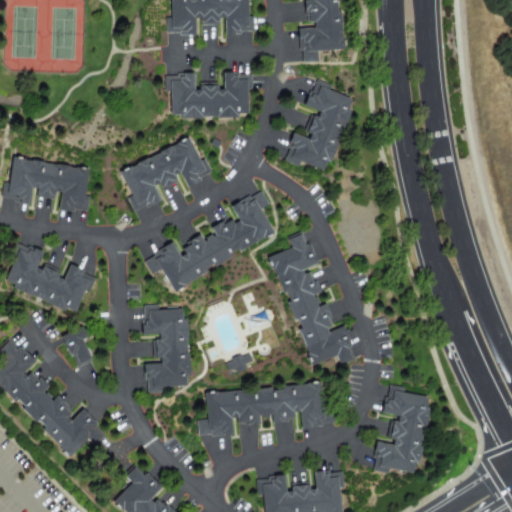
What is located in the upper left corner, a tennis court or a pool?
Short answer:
tennis court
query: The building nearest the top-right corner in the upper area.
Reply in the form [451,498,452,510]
[300,0,344,58]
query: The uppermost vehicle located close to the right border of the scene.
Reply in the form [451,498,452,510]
[497,364,510,383]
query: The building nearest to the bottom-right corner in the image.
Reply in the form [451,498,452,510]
[376,385,428,473]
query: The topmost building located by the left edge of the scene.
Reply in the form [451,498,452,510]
[0,158,88,210]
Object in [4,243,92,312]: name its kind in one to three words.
building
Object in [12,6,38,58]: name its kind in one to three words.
tennis court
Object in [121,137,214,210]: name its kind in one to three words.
building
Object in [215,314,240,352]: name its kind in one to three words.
swimming pool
